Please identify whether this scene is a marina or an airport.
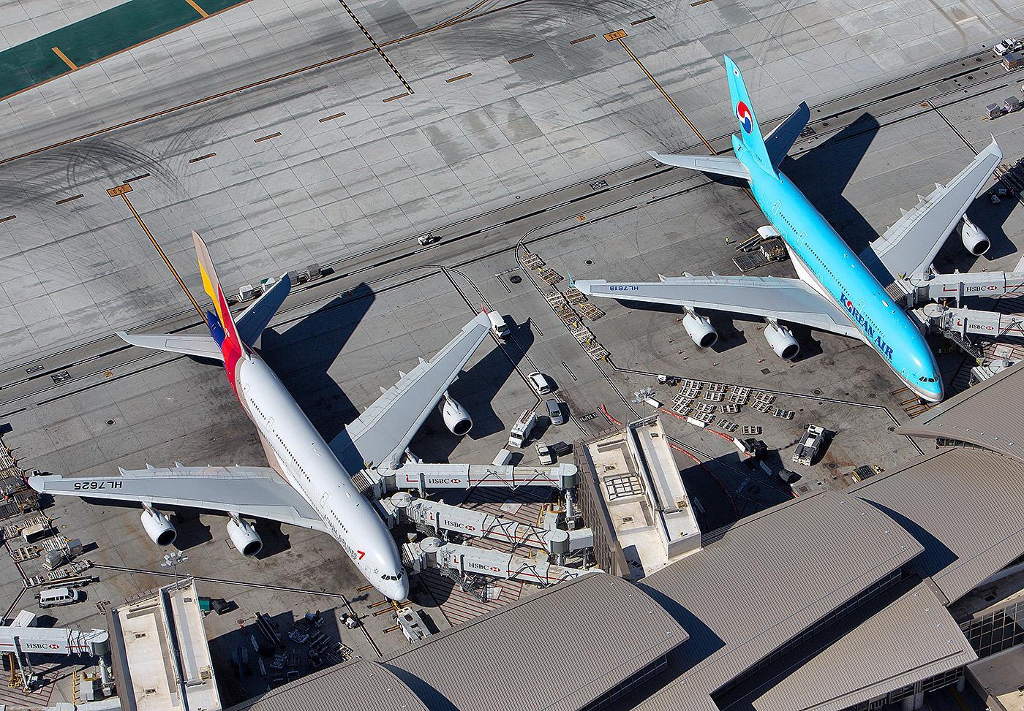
airport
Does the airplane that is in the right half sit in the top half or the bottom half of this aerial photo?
top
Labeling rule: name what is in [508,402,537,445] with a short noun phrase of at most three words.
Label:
truck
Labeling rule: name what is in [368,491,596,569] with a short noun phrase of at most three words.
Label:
jet bridge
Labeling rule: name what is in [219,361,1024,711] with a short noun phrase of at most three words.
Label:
building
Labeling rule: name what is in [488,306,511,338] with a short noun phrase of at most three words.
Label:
vehicle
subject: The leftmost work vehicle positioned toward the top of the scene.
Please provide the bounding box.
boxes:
[416,229,436,246]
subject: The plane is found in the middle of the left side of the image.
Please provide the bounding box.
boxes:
[20,228,490,603]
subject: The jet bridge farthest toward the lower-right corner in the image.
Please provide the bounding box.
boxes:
[969,358,1024,391]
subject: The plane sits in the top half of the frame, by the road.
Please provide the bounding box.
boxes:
[566,53,1002,404]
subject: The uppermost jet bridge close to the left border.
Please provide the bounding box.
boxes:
[0,628,120,702]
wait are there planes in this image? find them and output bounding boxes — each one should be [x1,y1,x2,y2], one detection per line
[566,53,1002,404]
[20,228,490,603]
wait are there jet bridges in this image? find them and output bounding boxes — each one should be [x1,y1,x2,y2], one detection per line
[904,302,1024,369]
[395,536,604,608]
[34,694,131,711]
[969,358,1024,391]
[368,491,596,569]
[353,457,583,530]
[0,628,120,702]
[888,269,1024,338]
